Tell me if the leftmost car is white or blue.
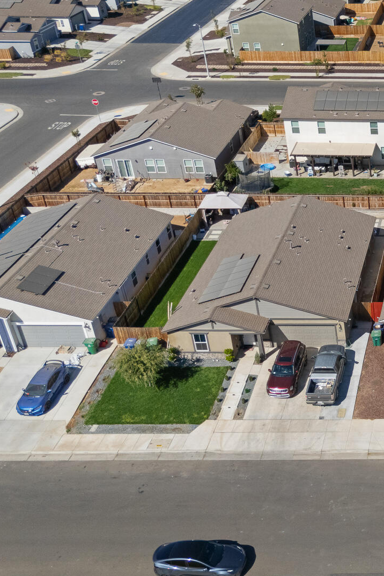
blue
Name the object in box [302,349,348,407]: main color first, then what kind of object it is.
gray truck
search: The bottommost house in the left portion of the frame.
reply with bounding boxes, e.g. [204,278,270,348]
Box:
[0,194,173,352]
